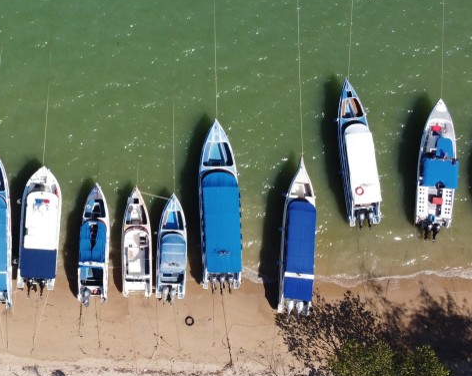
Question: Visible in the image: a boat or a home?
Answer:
boat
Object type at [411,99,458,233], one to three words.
boat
